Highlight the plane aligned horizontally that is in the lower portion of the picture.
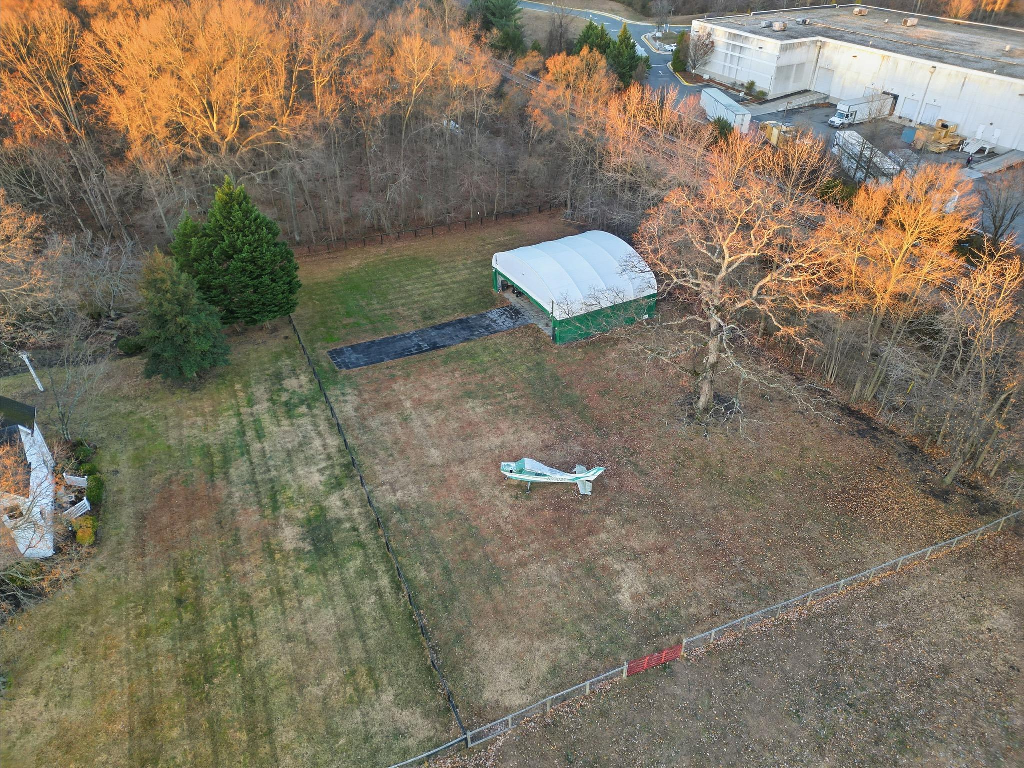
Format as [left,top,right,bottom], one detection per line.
[501,457,619,496]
